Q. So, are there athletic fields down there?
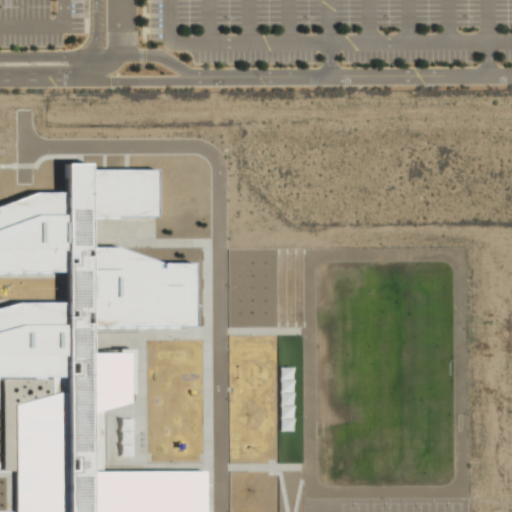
Yes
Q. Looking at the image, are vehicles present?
No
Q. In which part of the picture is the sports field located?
bottom right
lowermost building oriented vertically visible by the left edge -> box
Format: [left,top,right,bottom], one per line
[16,392,69,512]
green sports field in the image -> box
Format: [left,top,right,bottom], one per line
[317,262,453,486]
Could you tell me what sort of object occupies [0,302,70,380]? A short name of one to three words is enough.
building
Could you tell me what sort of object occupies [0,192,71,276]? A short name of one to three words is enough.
building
